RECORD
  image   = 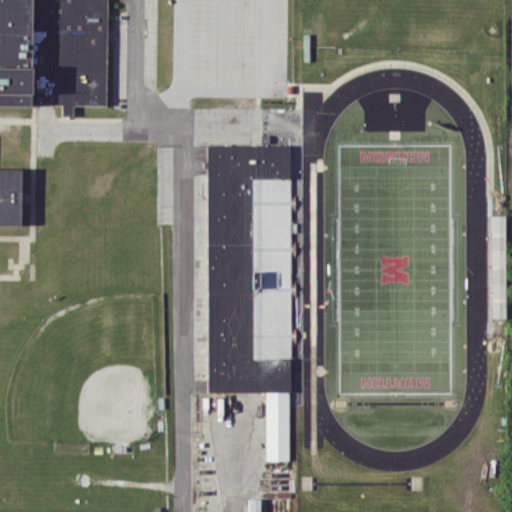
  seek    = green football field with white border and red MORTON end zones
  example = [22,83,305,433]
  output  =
[325,89,466,450]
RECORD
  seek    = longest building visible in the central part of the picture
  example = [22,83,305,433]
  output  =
[208,146,296,392]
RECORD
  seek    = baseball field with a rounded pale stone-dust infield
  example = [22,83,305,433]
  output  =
[78,364,152,445]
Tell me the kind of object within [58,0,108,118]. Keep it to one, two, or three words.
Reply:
building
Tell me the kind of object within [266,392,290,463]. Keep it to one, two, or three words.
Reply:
shed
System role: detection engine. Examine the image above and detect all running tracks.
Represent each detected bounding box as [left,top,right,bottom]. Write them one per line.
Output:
[304,68,486,471]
